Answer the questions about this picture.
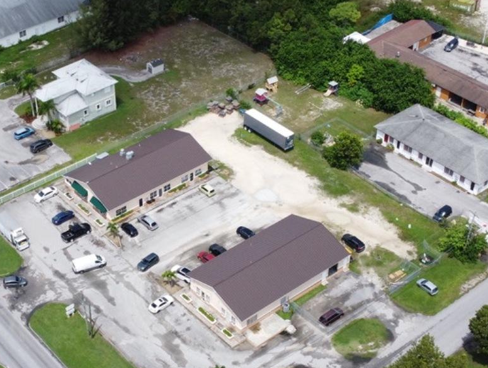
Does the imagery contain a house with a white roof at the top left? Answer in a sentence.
Yes, a house with a white roof shows up at the top left.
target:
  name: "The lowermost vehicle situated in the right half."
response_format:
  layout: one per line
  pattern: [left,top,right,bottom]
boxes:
[318,308,345,325]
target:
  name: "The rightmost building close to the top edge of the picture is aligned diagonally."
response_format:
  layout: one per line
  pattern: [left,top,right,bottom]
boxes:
[365,18,488,118]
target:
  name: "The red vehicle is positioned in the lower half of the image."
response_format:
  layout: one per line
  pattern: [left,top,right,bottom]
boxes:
[194,248,217,264]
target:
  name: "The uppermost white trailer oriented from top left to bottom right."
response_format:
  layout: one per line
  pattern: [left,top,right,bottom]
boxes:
[245,109,294,148]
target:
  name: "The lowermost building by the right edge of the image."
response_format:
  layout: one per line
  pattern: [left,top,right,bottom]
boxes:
[376,103,488,191]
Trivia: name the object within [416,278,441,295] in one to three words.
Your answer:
car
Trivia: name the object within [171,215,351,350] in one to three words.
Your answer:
building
